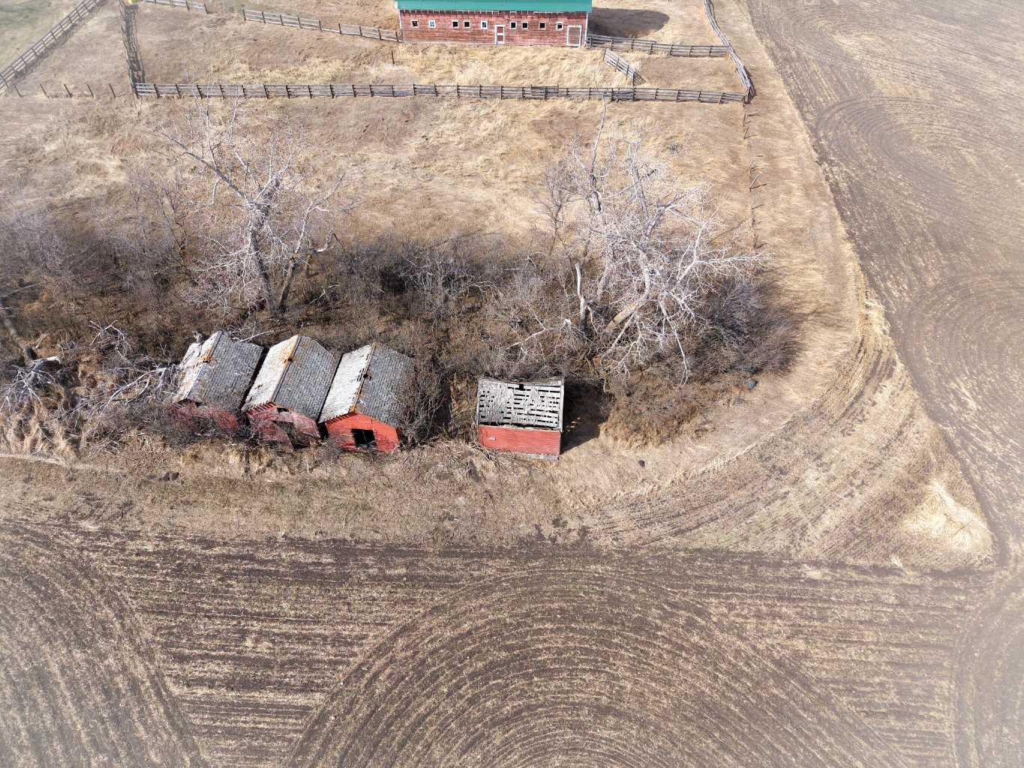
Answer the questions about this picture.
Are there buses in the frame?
No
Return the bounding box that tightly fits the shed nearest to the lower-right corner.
[474,369,564,455]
